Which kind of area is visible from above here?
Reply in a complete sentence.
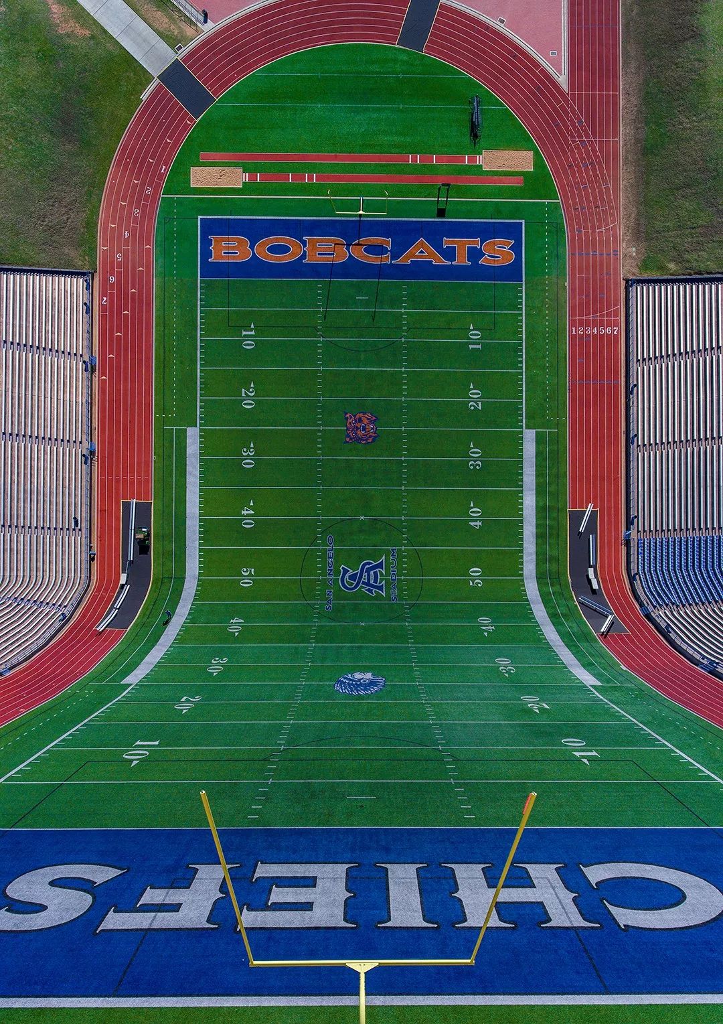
The area seen from above is a sports ground.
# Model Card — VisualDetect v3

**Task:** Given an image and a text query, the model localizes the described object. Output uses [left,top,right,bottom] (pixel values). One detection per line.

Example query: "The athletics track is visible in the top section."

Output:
[0,0,723,730]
